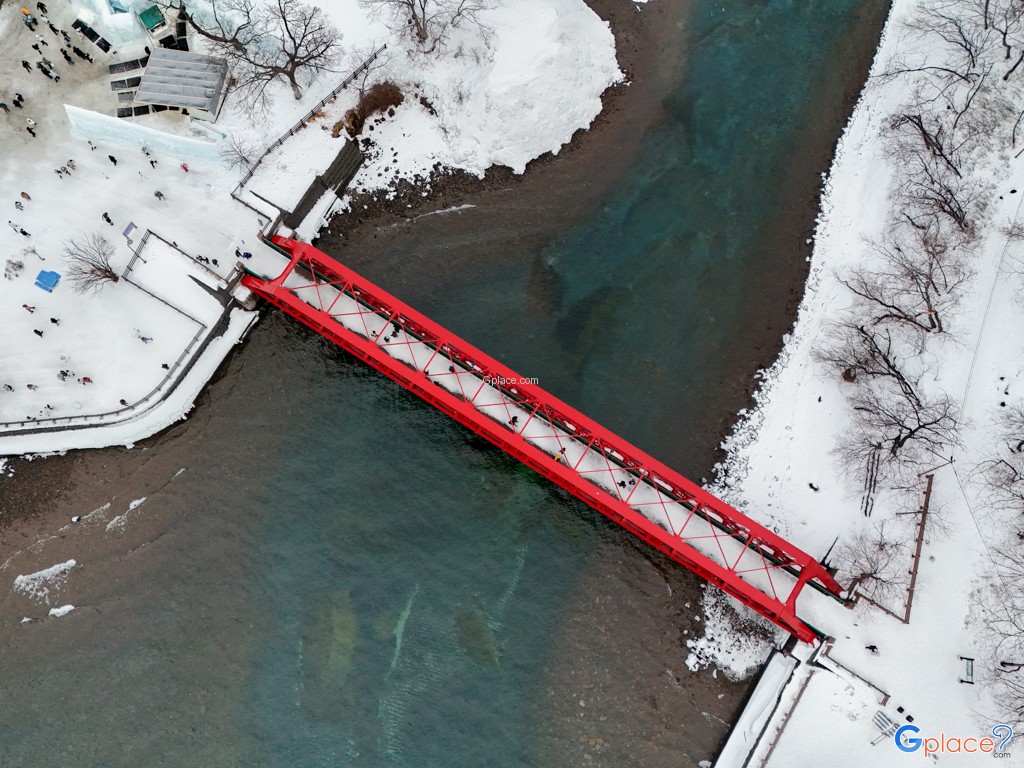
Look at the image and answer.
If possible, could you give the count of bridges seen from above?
1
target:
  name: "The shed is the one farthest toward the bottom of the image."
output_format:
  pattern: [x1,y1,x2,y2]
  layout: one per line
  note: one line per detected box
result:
[134,47,231,129]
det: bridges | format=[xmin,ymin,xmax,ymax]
[238,231,847,649]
